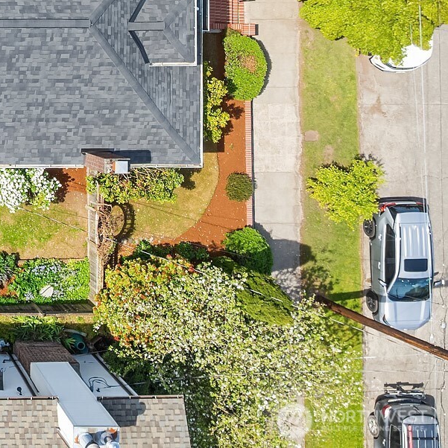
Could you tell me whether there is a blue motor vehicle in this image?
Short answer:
No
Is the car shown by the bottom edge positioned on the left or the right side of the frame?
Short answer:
right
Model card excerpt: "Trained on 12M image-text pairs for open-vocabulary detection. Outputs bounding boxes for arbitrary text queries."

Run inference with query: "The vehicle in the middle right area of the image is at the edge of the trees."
[363,198,436,326]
